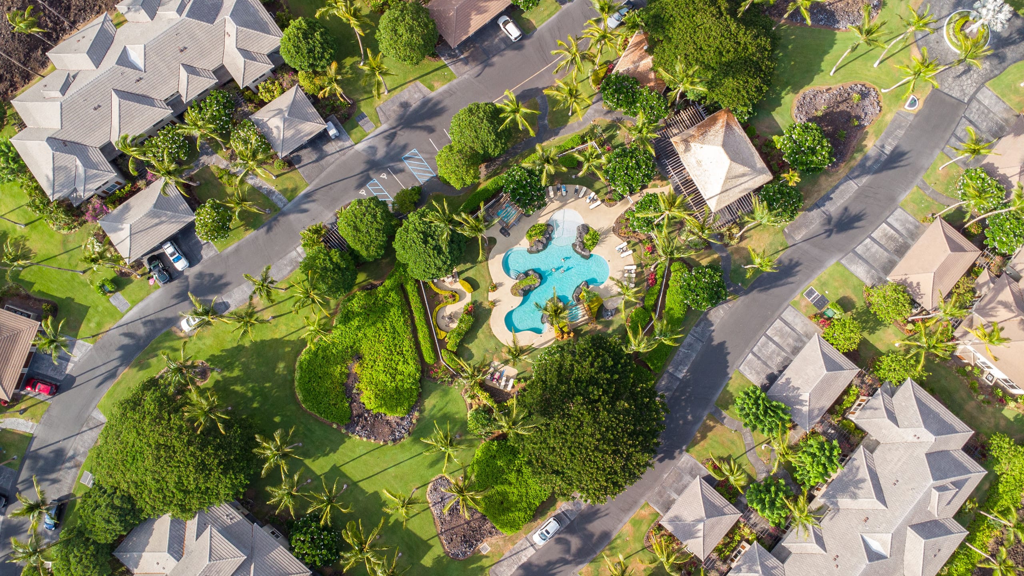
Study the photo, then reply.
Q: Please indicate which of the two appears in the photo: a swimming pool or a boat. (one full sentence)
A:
Of the two, only a swimming pool appears.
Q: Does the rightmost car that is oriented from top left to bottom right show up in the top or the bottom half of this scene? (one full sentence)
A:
Seen from above, the rightmost car that is oriented from top left to bottom right lies in the top half of the view.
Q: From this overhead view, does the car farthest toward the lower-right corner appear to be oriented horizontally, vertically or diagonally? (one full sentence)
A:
I'd say the car farthest toward the lower-right corner is aligned diagonally in the picture.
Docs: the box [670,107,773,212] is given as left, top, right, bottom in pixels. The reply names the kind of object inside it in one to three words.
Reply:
building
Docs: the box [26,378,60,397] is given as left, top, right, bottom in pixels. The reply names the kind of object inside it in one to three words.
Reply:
car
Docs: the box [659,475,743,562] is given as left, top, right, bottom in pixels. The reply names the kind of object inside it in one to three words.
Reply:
building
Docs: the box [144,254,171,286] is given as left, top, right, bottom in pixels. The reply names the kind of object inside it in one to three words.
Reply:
car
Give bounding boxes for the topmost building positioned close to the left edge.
[8,0,282,207]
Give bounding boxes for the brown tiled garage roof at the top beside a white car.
[424,0,515,48]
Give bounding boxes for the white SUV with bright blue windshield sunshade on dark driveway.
[161,240,188,272]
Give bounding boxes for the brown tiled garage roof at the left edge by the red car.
[0,306,48,402]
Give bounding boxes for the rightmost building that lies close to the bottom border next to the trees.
[724,378,988,576]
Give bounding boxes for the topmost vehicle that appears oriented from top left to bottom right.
[498,13,523,44]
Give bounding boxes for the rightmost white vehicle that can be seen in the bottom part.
[533,516,562,545]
